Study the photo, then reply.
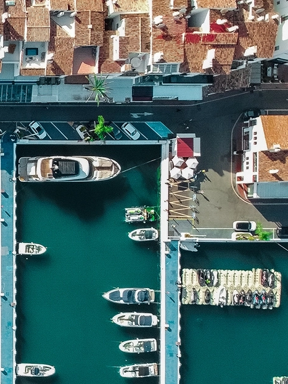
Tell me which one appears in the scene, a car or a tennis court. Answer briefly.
car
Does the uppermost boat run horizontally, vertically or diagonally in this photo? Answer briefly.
horizontally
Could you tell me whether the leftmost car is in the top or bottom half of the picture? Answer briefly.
top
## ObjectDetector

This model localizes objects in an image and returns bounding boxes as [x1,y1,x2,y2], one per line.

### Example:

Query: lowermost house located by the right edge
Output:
[235,114,288,195]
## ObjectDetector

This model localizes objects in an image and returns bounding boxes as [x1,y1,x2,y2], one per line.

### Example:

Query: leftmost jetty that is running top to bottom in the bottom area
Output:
[0,130,27,384]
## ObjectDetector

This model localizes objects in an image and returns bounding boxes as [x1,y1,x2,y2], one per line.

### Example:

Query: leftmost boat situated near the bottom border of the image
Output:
[16,362,60,377]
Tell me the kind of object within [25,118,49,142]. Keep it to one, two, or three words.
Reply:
car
